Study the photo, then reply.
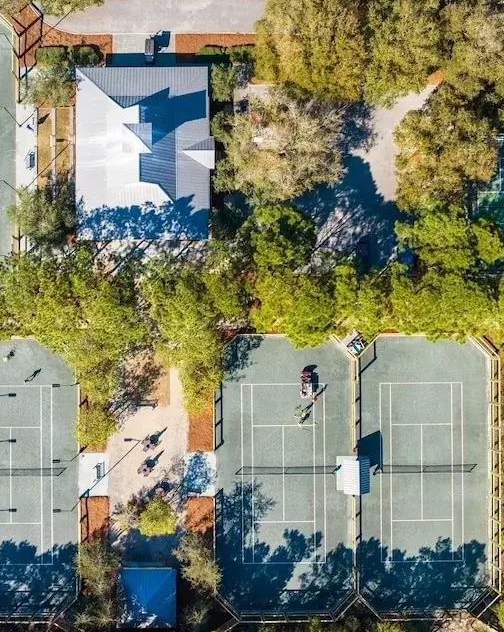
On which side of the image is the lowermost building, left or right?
left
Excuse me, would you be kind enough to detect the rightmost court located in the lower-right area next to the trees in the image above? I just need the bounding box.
[354,337,489,610]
